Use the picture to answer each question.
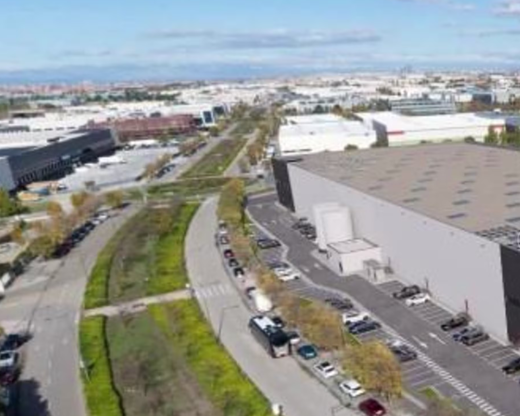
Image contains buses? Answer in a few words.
Yes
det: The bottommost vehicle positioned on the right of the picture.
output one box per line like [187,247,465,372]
[356,398,387,416]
